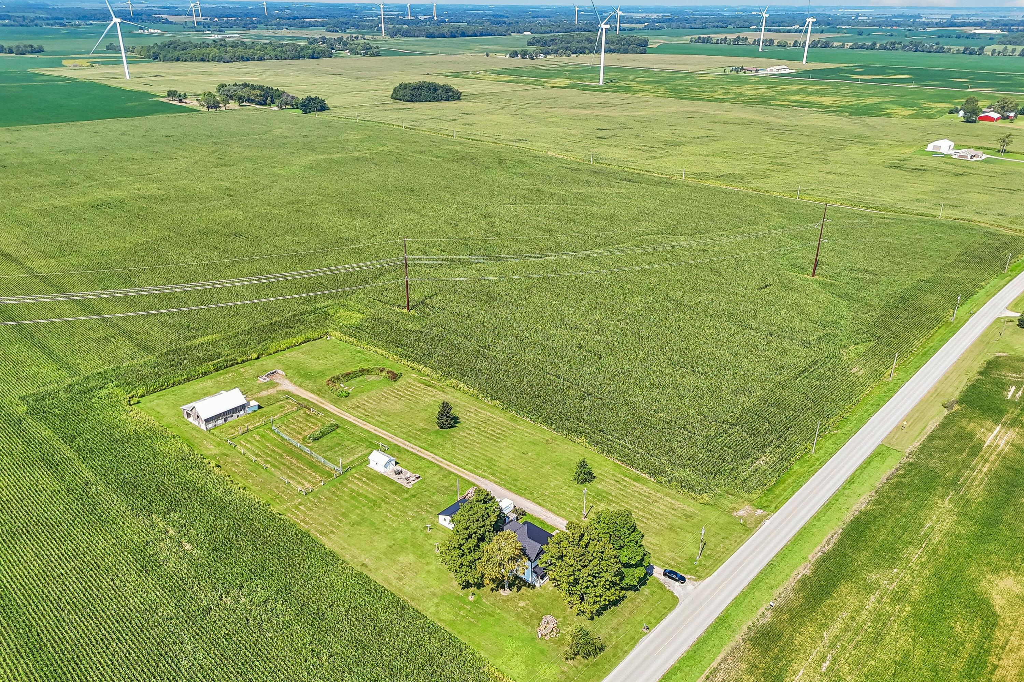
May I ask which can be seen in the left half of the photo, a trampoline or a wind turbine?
wind turbine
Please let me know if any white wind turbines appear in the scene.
Yes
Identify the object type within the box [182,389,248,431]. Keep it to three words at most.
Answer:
barn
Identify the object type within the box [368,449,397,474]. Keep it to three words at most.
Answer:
shed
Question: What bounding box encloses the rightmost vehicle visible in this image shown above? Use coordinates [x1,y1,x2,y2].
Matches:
[665,570,686,584]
